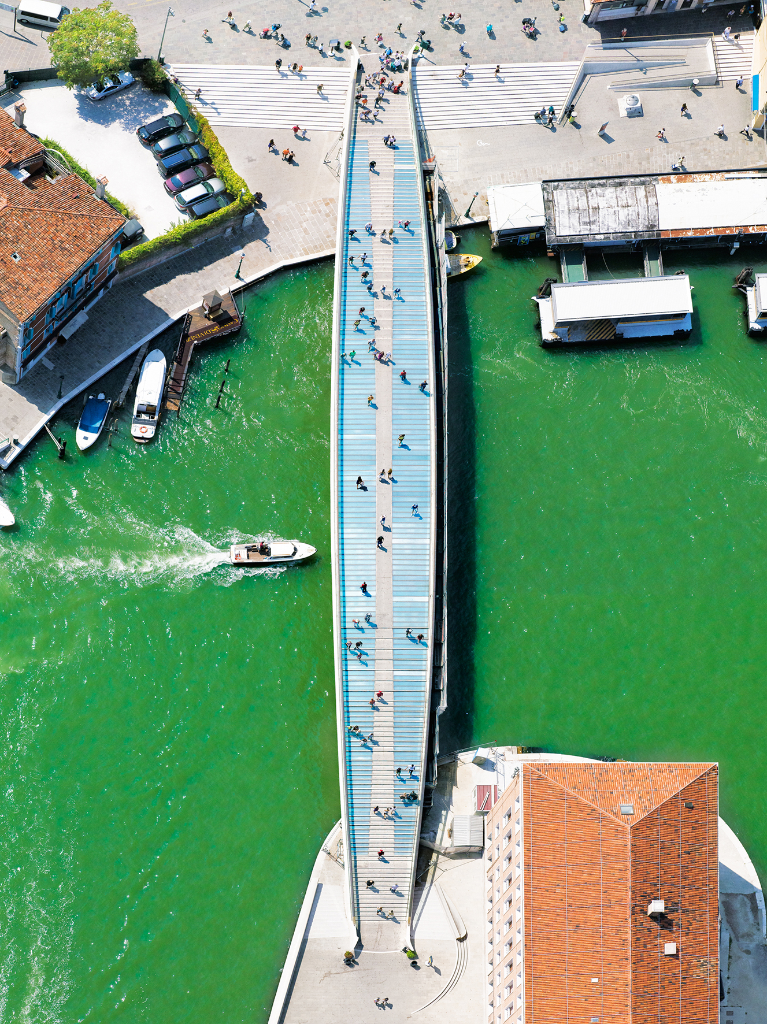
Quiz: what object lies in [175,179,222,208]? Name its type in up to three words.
car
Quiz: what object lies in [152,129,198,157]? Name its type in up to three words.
car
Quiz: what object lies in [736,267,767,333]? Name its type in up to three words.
pier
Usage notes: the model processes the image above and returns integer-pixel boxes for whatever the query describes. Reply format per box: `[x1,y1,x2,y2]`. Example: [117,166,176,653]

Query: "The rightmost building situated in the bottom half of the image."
[491,761,722,1024]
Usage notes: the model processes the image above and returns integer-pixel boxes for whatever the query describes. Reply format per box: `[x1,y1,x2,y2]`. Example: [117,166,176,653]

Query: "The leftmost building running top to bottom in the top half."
[0,98,128,388]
